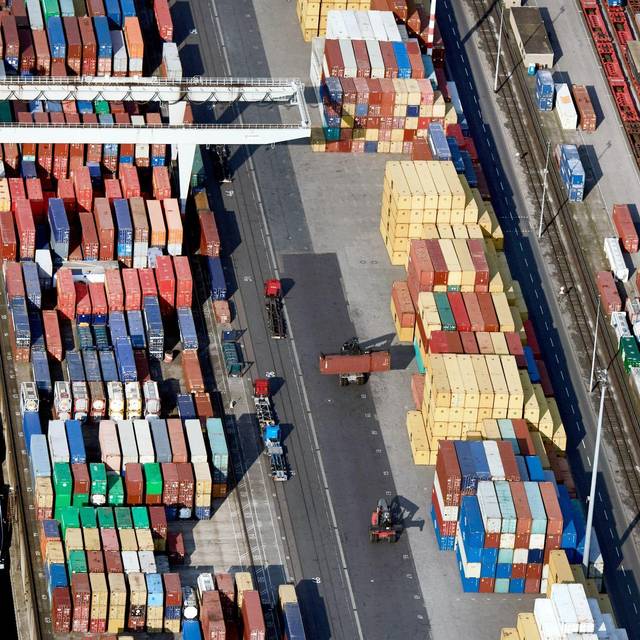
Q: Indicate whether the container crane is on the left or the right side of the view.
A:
left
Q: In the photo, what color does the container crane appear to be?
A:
white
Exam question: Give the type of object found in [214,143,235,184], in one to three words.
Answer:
truck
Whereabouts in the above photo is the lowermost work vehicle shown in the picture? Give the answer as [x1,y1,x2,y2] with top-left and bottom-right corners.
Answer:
[369,498,398,541]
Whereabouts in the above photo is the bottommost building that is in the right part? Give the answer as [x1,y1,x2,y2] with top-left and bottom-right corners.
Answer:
[509,6,554,68]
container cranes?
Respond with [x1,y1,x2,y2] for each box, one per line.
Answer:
[0,72,311,222]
